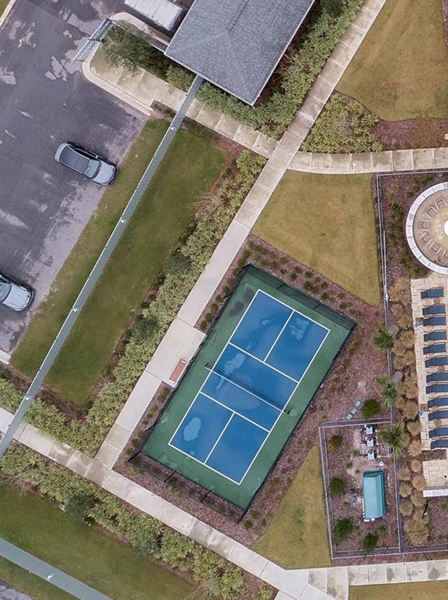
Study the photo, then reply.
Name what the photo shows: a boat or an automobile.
automobile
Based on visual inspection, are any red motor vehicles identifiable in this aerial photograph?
No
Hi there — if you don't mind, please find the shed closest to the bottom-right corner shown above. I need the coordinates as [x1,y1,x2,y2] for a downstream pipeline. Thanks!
[360,475,383,524]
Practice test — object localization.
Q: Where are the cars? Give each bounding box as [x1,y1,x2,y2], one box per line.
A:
[47,141,116,188]
[0,270,33,311]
